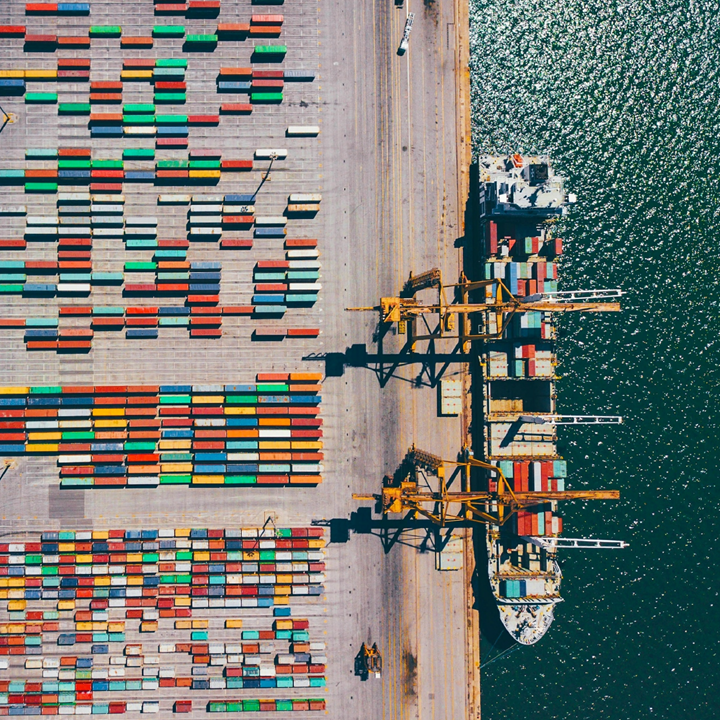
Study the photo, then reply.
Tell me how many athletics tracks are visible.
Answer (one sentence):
Not a single athletics track can be seen.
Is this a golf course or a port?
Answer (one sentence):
What you see here is a port.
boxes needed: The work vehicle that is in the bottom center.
[360,641,381,679]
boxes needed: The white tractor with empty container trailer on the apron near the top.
[397,13,415,57]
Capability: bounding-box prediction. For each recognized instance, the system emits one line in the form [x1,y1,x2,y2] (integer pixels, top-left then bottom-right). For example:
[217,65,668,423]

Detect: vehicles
[397,13,415,57]
[360,641,381,679]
